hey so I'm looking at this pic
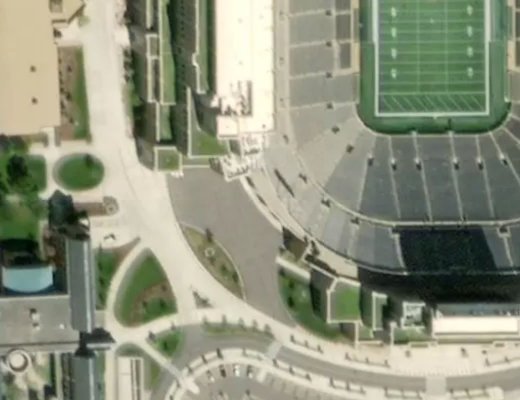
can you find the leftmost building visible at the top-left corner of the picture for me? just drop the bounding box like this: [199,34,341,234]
[0,0,60,134]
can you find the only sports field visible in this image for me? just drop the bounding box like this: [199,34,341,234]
[359,0,507,134]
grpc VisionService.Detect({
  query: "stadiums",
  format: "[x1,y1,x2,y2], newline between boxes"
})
[233,0,520,281]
